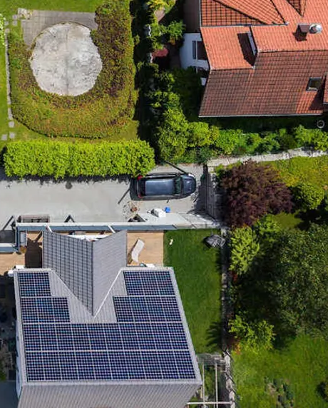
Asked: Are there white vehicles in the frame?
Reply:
No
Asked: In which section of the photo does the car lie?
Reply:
center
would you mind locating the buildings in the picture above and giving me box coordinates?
[14,225,201,408]
[182,0,328,119]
